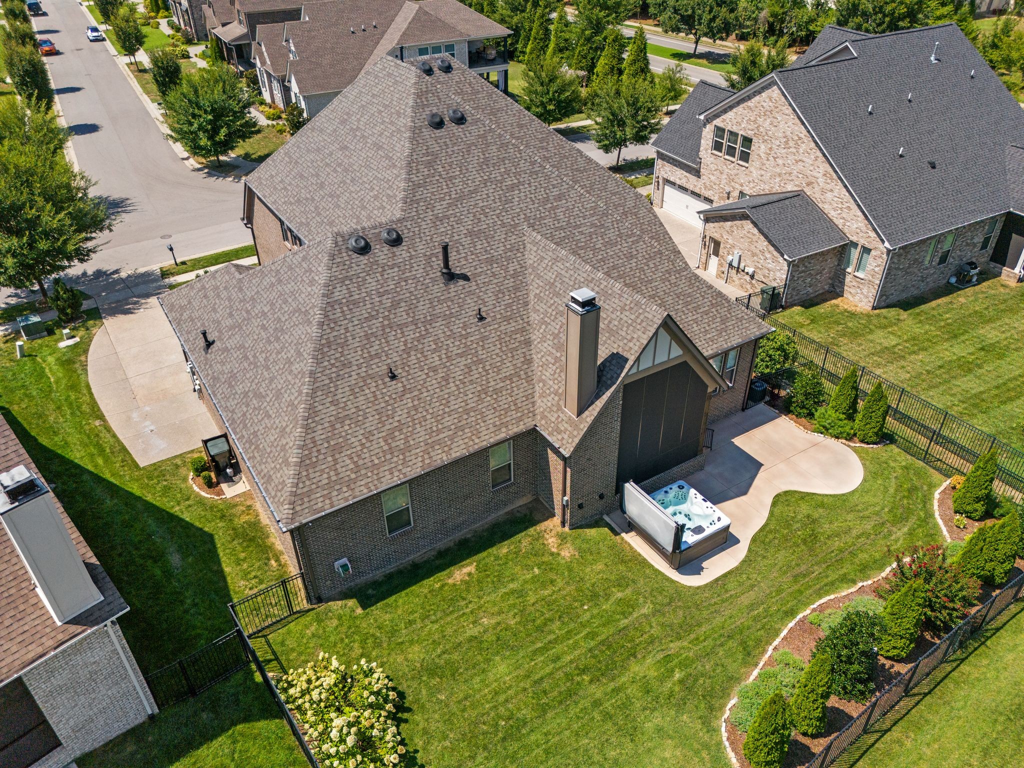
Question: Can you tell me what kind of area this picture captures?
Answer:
residential area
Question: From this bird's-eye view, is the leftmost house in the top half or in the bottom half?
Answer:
bottom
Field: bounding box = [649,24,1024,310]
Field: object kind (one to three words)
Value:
house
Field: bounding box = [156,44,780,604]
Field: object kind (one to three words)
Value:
house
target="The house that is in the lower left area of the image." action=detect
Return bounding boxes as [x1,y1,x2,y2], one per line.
[0,414,158,768]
